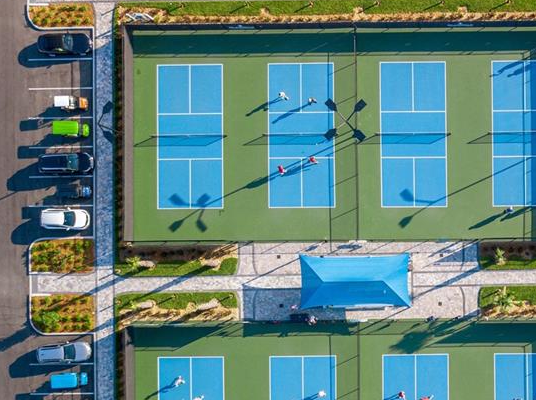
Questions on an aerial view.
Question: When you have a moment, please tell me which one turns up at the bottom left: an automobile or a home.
automobile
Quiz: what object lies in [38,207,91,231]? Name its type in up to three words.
car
